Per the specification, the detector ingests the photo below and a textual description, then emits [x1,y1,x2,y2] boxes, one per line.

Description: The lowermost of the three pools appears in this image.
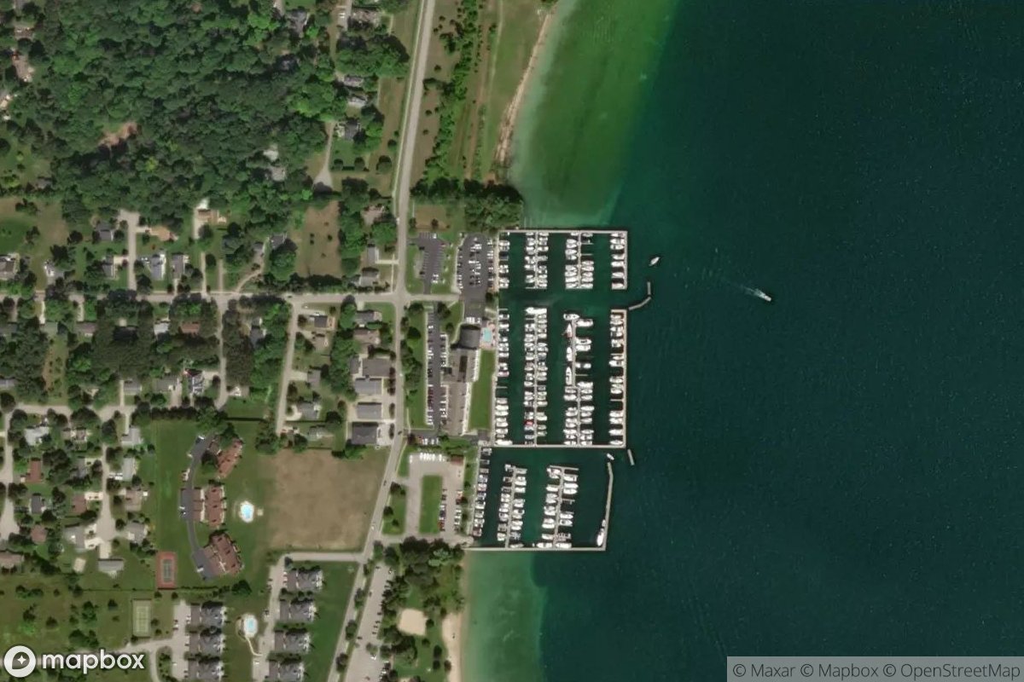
[243,614,257,636]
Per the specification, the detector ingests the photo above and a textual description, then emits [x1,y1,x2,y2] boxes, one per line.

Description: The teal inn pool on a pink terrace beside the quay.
[479,321,496,350]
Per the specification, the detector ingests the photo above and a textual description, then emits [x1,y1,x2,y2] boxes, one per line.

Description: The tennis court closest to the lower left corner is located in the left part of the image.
[133,600,150,636]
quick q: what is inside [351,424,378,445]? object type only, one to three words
building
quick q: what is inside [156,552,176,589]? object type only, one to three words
tennis court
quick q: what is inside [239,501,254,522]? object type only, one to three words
swimming pool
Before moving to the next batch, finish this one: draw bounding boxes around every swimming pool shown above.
[243,614,257,636]
[239,501,254,522]
[479,321,496,350]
